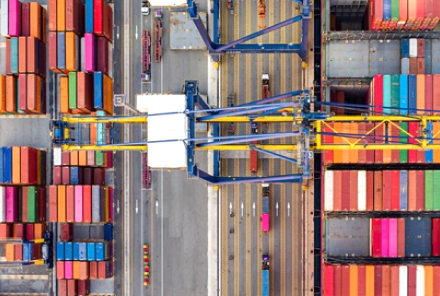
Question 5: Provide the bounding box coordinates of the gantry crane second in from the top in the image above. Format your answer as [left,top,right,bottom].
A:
[47,83,440,188]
